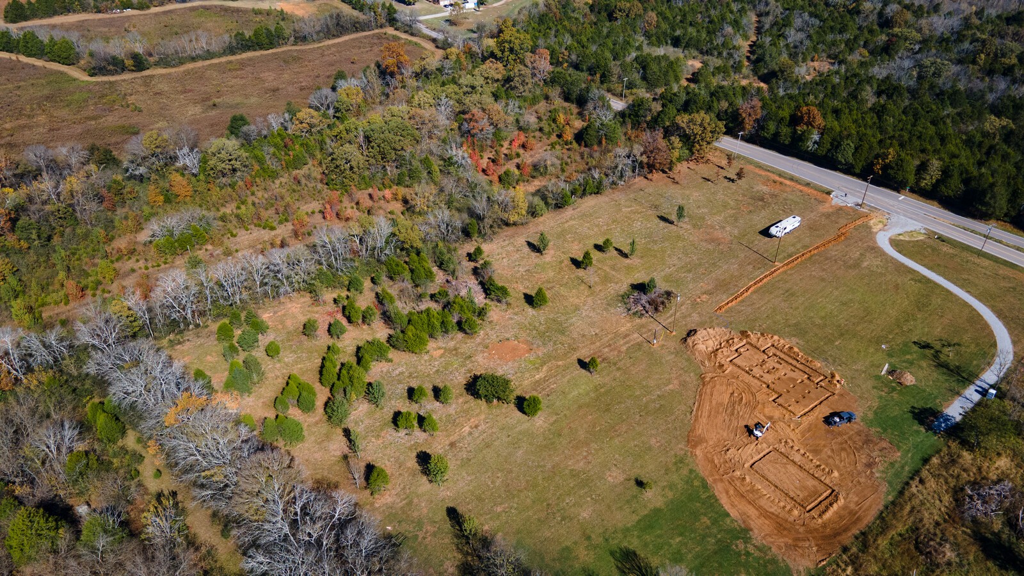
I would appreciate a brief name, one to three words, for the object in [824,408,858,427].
vehicle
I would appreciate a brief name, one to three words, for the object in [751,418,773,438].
work vehicle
